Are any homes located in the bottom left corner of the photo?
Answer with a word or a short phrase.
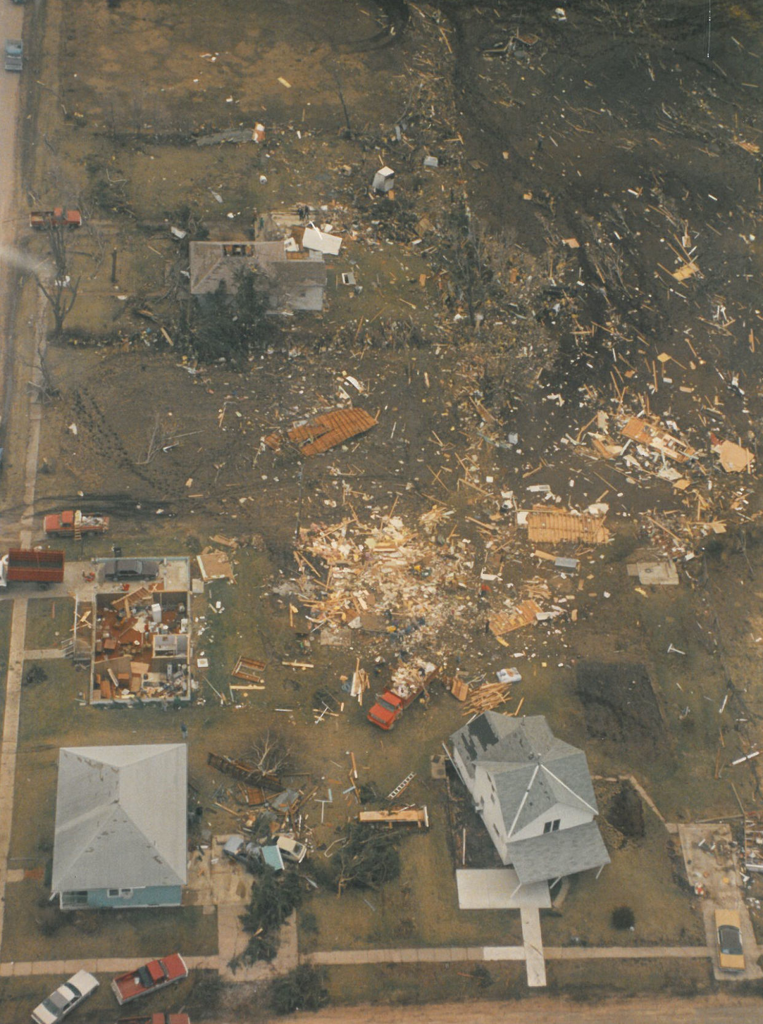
Yes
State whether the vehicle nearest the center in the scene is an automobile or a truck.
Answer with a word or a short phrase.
truck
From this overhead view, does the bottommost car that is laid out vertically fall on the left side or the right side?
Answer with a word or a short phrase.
right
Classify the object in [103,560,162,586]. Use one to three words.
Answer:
car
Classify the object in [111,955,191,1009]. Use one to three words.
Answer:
truck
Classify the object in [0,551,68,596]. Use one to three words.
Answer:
truck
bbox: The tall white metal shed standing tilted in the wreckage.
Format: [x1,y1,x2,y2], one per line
[373,167,393,196]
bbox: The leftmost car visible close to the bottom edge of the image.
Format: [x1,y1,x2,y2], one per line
[27,965,105,1024]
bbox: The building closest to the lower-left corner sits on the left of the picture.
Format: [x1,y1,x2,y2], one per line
[50,741,188,906]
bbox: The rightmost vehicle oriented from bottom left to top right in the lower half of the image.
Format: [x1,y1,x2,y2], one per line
[368,656,448,735]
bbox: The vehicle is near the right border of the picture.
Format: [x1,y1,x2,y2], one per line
[713,909,744,977]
